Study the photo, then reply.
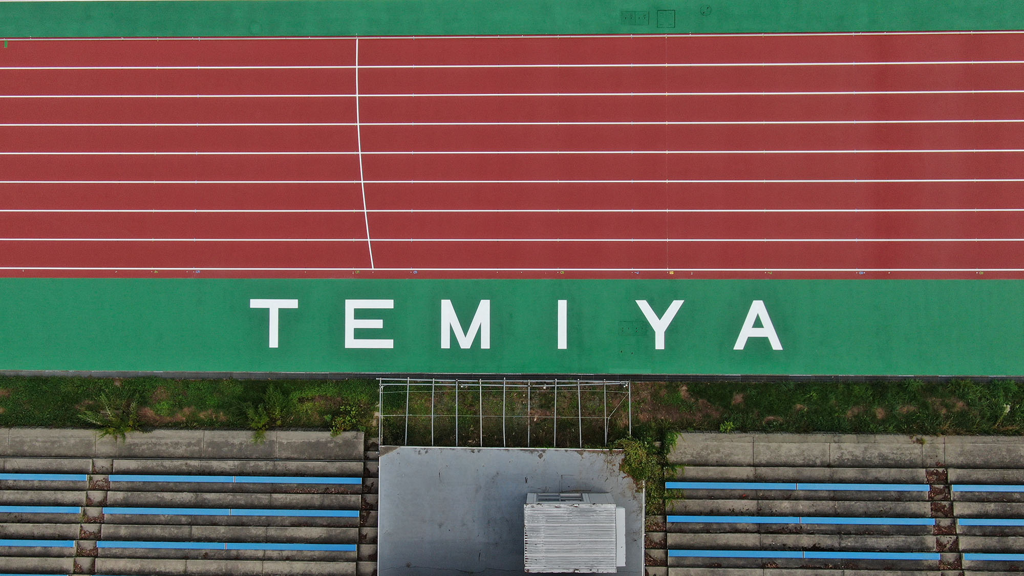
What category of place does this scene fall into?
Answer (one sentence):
This looks like a sports ground.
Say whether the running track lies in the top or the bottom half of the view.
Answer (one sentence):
Seen from above, the running track lies in the top half of the view.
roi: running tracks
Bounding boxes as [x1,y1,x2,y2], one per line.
[0,30,1024,280]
